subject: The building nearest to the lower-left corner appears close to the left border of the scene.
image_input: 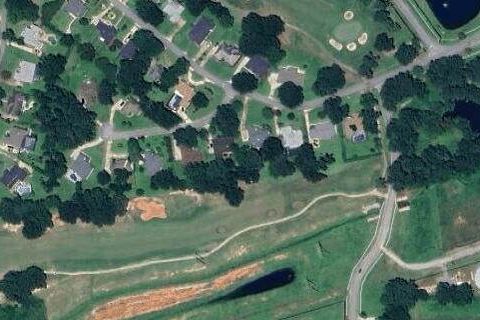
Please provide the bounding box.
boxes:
[1,162,29,190]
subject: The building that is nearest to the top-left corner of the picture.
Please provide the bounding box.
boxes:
[20,24,44,49]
